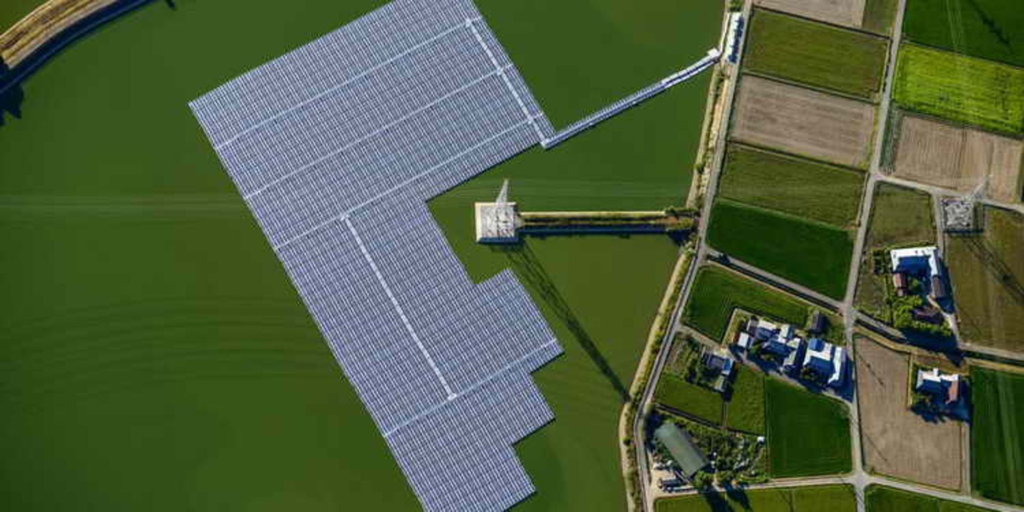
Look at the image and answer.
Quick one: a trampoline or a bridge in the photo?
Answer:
bridge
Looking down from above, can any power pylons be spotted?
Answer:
Yes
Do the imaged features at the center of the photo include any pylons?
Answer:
Yes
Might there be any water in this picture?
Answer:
Yes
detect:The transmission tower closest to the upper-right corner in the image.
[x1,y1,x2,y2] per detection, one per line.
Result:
[941,178,993,232]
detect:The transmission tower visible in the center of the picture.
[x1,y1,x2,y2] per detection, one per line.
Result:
[479,179,516,239]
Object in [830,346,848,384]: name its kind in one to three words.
house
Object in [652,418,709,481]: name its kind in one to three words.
shed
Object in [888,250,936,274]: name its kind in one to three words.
house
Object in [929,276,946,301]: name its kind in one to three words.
barn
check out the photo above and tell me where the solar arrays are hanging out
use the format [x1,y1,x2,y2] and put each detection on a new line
[187,0,563,512]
